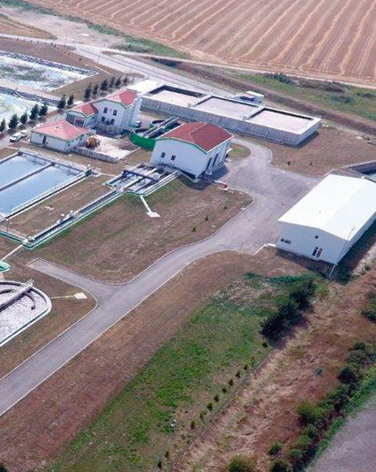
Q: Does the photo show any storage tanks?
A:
Yes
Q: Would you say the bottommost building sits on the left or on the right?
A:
right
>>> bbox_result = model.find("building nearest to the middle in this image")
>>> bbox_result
[152,121,238,178]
